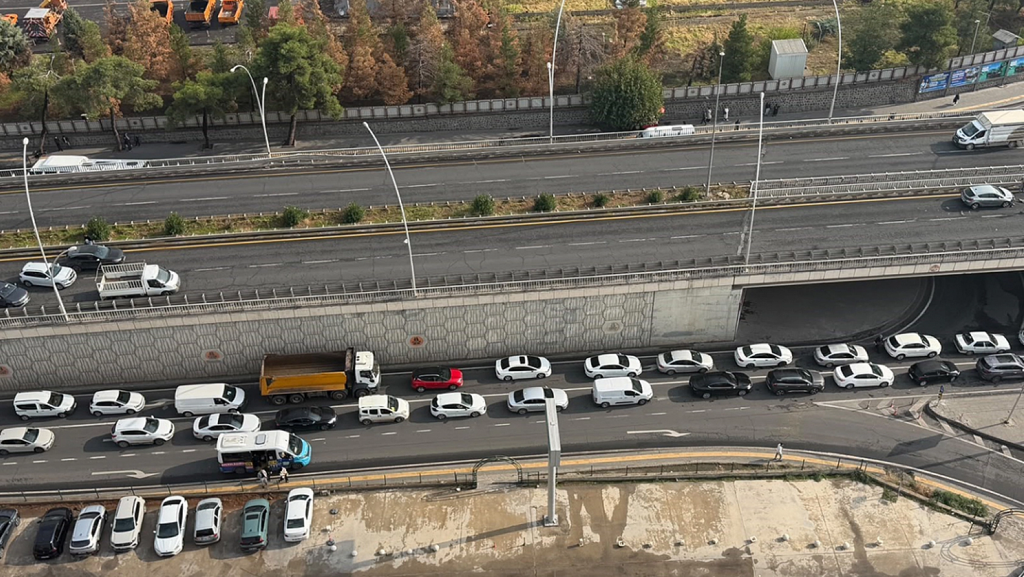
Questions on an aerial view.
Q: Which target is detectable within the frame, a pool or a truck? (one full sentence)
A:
This aerial view contains a truck.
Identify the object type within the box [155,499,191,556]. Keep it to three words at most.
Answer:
car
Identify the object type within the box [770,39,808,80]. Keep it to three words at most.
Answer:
shed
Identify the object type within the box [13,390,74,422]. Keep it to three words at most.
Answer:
van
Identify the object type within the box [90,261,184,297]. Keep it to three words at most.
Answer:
truck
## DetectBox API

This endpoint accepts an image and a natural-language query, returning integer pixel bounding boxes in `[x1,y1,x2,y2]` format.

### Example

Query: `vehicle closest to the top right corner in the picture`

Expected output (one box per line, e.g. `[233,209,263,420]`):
[956,106,1024,151]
